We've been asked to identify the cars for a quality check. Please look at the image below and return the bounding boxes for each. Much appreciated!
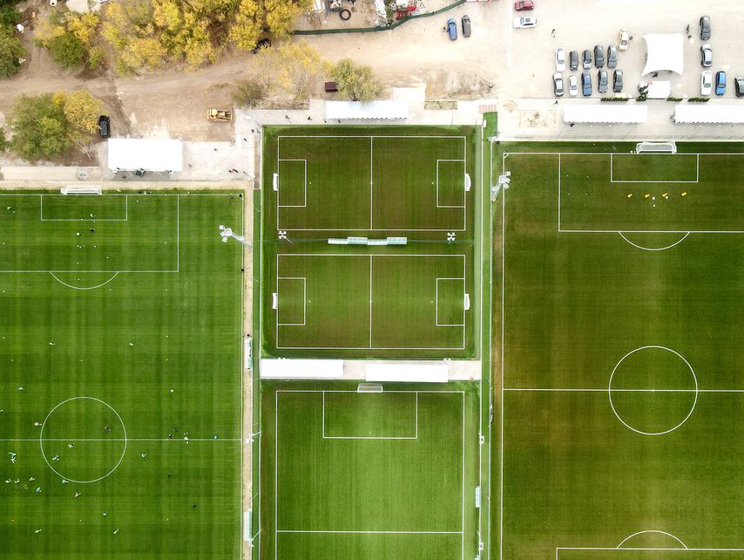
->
[735,75,744,96]
[447,17,458,38]
[514,15,538,28]
[569,49,581,71]
[582,71,594,94]
[583,48,593,69]
[97,113,109,137]
[700,13,712,38]
[594,43,606,67]
[613,69,625,90]
[553,73,564,94]
[716,71,729,94]
[568,74,580,95]
[598,69,609,91]
[514,0,535,10]
[618,26,631,50]
[555,47,566,71]
[701,71,712,94]
[461,13,473,37]
[701,43,713,66]
[607,44,619,67]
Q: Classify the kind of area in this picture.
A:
sports ground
